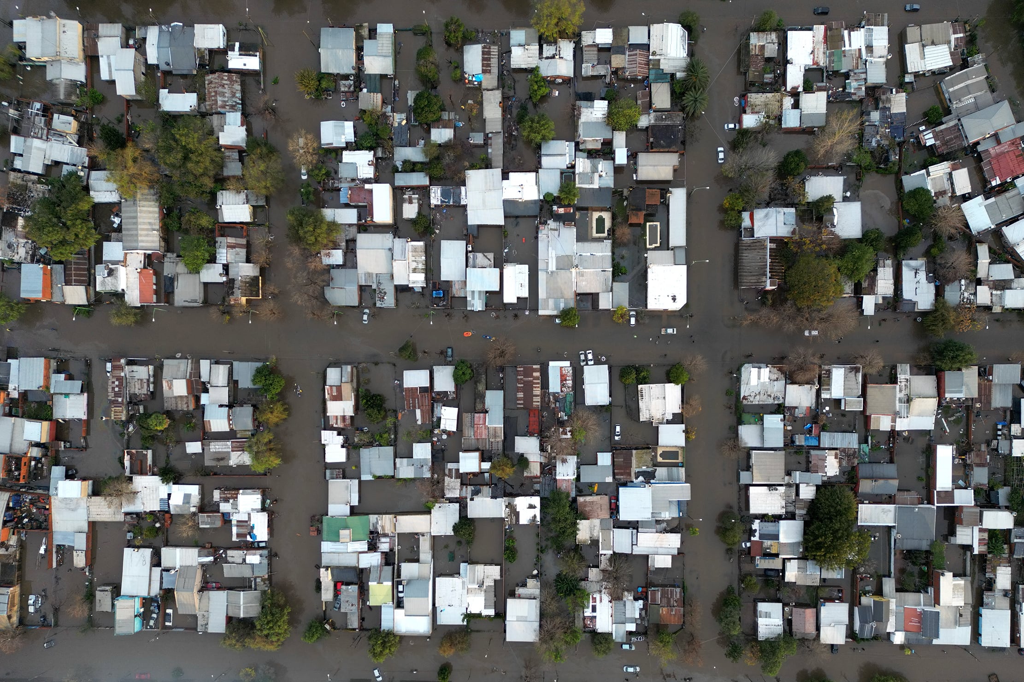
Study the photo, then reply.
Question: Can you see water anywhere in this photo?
Yes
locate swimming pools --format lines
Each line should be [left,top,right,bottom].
[657,447,684,462]
[647,222,660,247]
[592,211,611,238]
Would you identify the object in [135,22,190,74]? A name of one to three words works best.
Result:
house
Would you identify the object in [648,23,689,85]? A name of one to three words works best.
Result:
house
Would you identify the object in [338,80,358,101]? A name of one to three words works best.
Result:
shed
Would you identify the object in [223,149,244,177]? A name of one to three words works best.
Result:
shed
